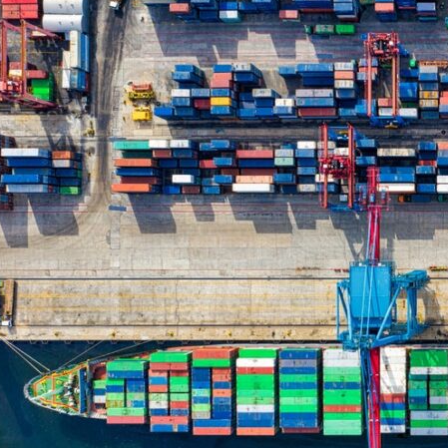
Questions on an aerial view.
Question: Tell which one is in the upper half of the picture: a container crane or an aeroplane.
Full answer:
What appears in the upper half of the picture is a container crane.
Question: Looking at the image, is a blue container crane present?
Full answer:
Yes, a blue container crane appears in the view.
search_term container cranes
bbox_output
[2,17,78,113]
[320,120,372,217]
[336,168,430,448]
[361,30,408,132]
